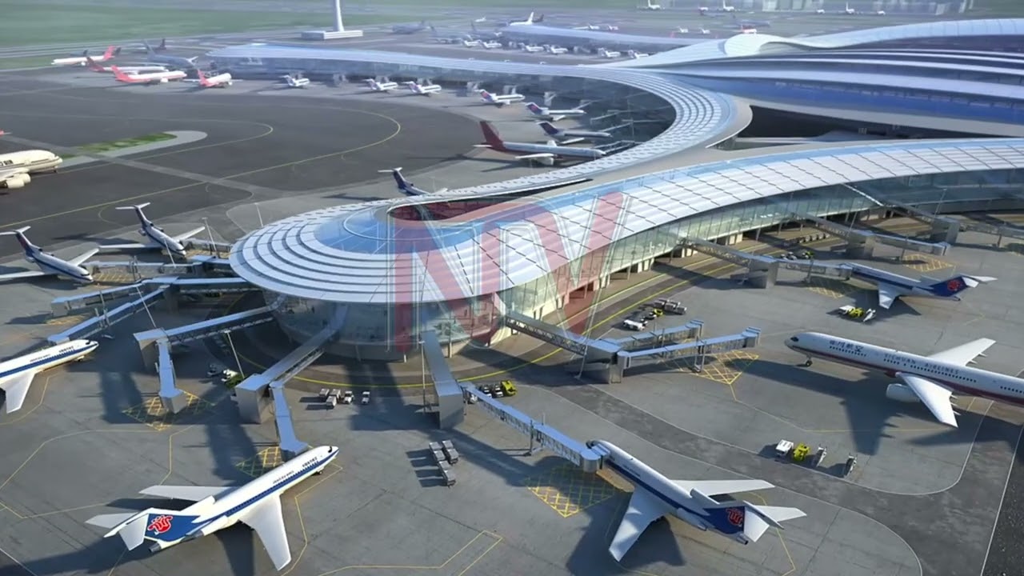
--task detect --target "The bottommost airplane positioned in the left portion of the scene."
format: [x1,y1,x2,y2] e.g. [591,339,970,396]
[86,446,337,568]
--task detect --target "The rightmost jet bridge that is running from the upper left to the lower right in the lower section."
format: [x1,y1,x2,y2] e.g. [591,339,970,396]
[419,326,608,483]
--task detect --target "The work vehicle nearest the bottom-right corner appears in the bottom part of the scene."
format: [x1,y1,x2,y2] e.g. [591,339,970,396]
[843,449,860,475]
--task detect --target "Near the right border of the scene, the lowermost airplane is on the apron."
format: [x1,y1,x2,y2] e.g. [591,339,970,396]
[785,334,1024,427]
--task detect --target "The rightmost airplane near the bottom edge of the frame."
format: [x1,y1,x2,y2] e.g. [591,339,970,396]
[588,441,805,560]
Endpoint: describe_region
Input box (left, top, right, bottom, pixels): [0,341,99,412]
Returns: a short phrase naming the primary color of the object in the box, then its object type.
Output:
white airplane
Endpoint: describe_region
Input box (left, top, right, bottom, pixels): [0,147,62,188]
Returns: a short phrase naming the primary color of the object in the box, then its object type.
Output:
white airplane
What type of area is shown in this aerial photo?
airport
